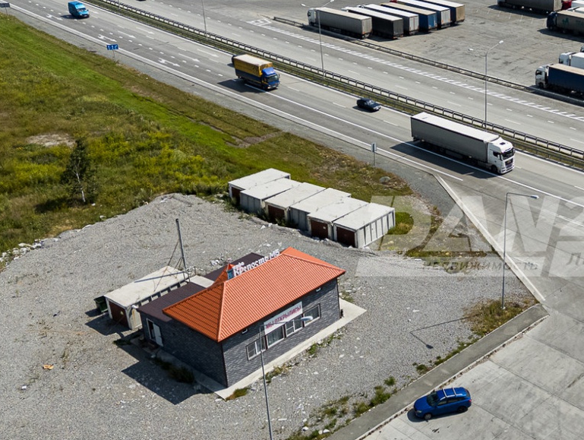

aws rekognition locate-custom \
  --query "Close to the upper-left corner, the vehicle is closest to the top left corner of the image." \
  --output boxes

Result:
[65,0,88,18]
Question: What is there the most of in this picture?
paved ground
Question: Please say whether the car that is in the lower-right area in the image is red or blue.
blue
